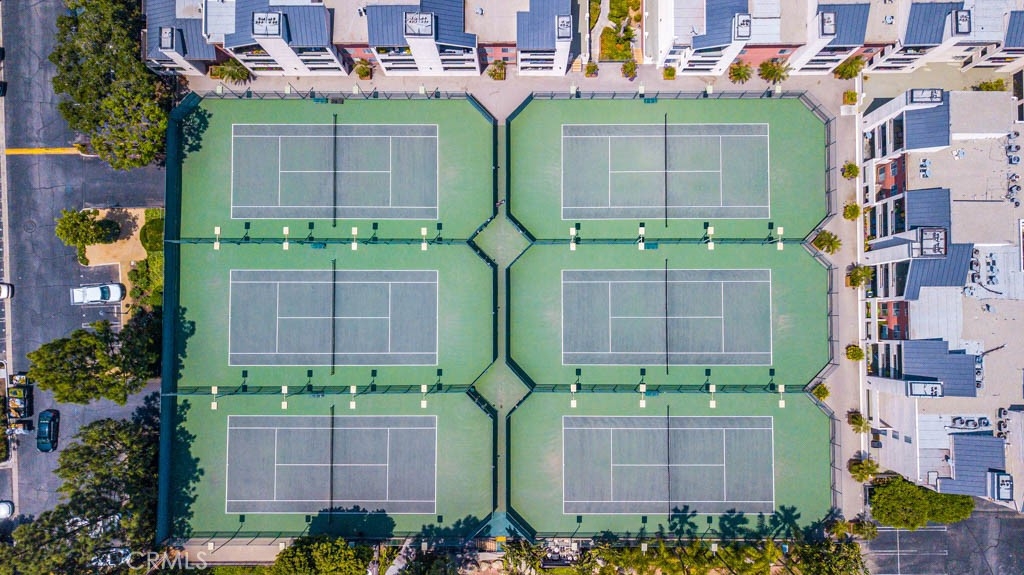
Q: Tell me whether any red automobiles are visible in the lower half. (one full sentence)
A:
No, I see no red automobile in the lower half.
